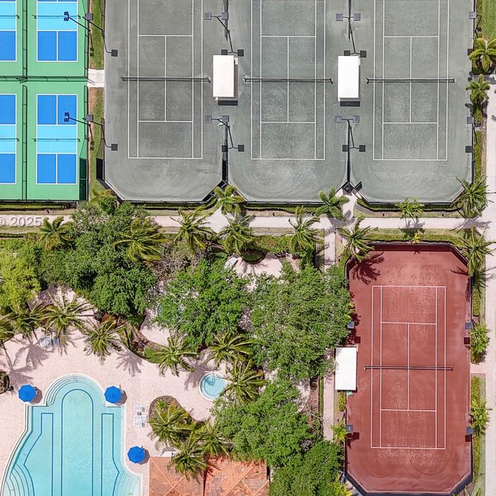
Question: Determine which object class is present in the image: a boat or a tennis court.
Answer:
tennis court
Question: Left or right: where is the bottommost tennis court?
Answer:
right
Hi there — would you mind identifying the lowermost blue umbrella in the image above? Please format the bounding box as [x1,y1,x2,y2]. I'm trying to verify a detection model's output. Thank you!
[128,446,145,463]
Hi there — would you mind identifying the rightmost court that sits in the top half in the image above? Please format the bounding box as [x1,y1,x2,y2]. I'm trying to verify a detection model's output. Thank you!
[350,0,475,203]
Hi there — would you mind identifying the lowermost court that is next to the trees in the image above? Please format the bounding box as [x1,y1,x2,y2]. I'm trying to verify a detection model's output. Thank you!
[346,243,472,493]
